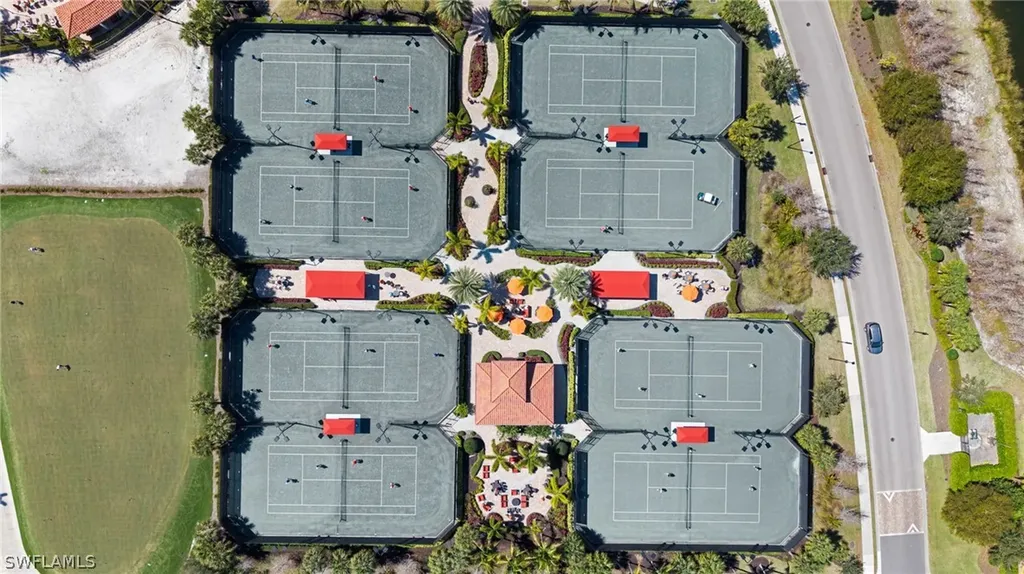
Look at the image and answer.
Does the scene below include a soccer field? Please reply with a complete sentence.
No, I find no soccer field anywhere in the image.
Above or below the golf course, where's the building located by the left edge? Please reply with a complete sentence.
As seen from overhead, the building located by the left edge falls above the golf course in the picture.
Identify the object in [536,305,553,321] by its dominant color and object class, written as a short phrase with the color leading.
orange umbrella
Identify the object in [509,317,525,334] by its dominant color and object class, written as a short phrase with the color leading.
orange umbrella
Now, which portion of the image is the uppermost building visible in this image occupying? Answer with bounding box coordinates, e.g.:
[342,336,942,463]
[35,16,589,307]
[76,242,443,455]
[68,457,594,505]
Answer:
[50,0,154,42]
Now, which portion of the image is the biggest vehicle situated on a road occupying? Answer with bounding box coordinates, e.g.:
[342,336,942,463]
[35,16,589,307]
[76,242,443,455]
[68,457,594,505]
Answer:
[865,323,883,353]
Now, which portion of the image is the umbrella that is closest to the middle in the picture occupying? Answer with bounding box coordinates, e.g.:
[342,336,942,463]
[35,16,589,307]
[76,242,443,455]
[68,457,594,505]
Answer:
[508,277,524,294]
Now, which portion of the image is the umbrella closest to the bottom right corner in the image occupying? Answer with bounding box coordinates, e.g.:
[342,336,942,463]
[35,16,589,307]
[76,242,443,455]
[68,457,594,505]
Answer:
[682,284,699,301]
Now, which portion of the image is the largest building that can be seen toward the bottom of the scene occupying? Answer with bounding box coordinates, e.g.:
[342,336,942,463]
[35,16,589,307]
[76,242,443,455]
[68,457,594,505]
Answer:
[475,359,554,425]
